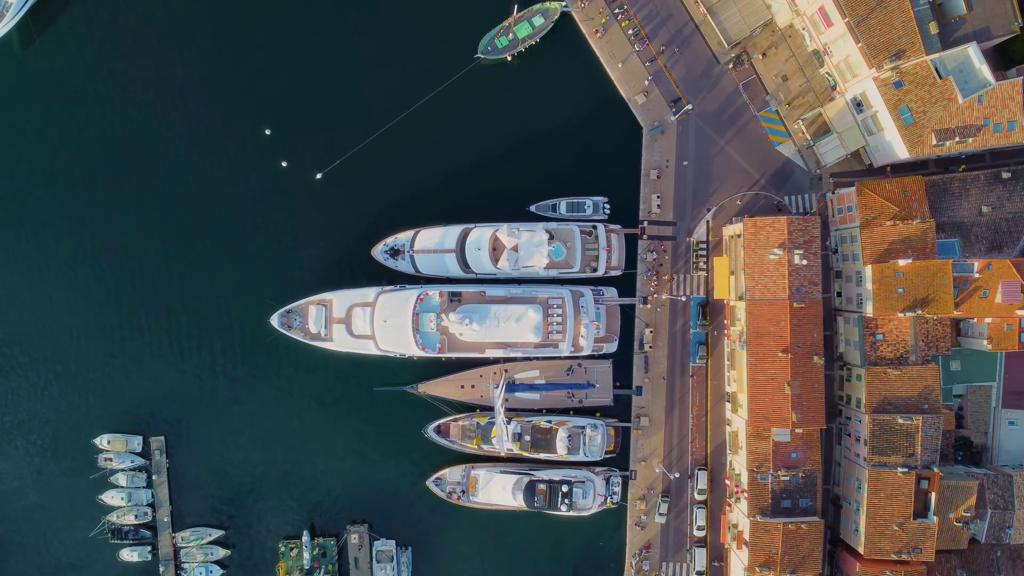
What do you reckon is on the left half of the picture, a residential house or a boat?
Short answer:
boat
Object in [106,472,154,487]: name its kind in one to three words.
boat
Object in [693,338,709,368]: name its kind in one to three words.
car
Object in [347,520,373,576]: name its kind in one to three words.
pier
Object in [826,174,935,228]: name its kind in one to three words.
house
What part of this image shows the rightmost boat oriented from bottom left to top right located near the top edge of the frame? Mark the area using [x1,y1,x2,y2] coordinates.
[473,1,566,60]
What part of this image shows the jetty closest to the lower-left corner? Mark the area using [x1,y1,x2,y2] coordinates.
[147,436,176,576]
